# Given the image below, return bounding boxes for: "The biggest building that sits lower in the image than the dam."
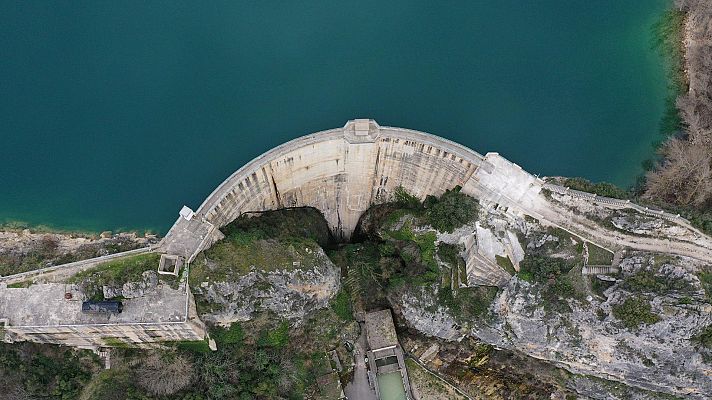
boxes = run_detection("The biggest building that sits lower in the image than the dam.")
[364,309,398,353]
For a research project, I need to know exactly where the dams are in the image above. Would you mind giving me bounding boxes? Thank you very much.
[192,117,484,242]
